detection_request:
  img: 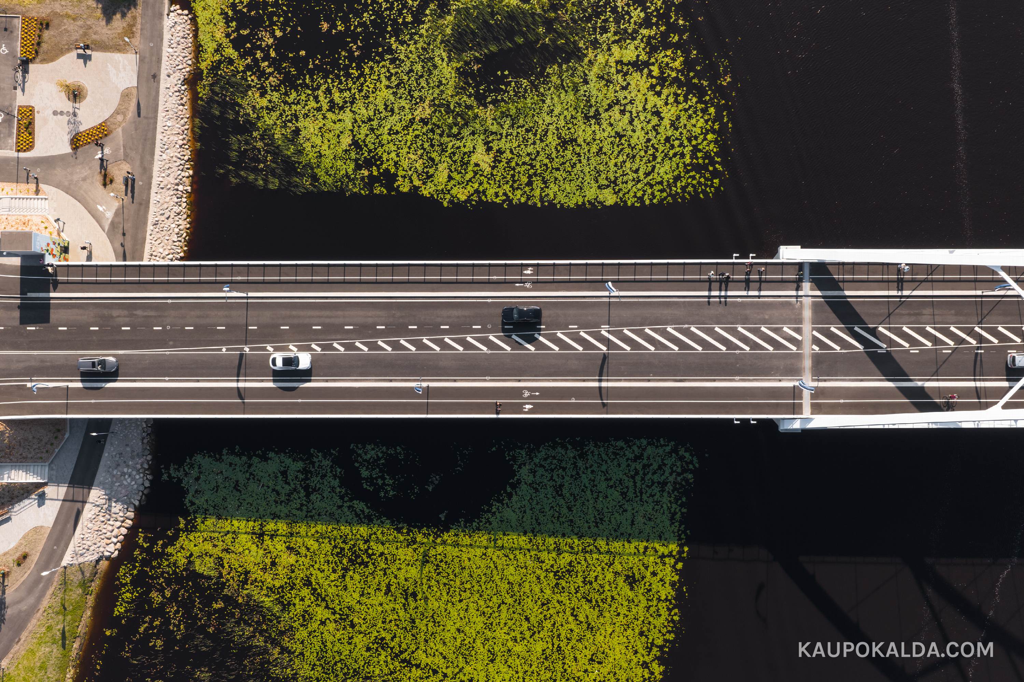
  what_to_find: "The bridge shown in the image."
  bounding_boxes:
[0,246,1024,433]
